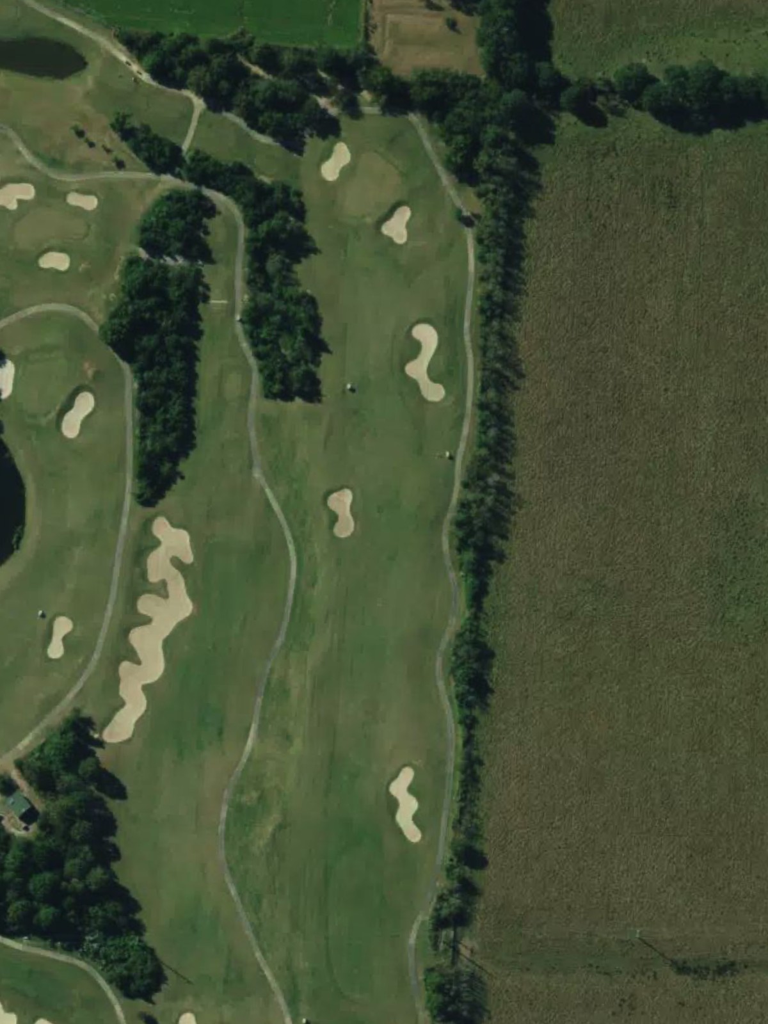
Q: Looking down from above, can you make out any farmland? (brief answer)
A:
Yes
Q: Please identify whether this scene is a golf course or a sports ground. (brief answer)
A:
golf course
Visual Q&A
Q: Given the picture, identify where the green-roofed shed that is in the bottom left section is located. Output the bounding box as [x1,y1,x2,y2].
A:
[6,792,30,817]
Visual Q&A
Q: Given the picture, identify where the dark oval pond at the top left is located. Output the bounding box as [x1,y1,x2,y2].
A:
[0,38,87,78]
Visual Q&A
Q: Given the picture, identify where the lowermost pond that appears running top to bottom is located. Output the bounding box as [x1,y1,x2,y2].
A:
[0,436,25,565]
